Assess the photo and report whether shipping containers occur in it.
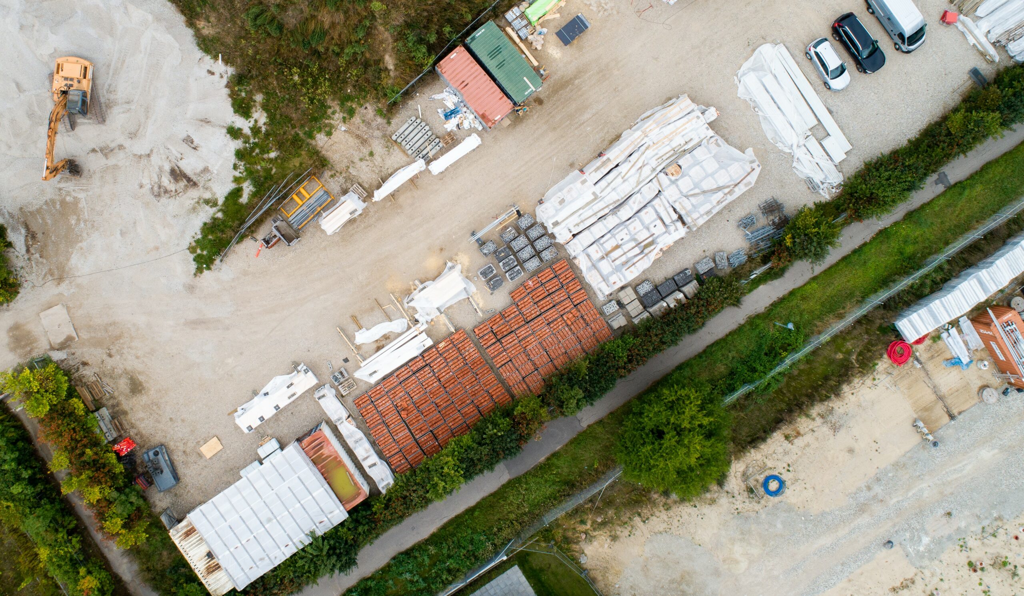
Yes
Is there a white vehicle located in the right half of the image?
Yes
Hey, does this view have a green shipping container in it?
Yes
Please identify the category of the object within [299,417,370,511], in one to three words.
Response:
shipping container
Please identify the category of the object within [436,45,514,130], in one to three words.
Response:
shipping container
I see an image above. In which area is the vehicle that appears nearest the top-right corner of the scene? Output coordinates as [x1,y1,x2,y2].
[868,0,932,58]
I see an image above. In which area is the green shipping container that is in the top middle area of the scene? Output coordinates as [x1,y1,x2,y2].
[465,19,543,106]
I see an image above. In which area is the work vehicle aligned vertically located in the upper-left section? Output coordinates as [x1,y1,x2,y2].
[37,65,103,191]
